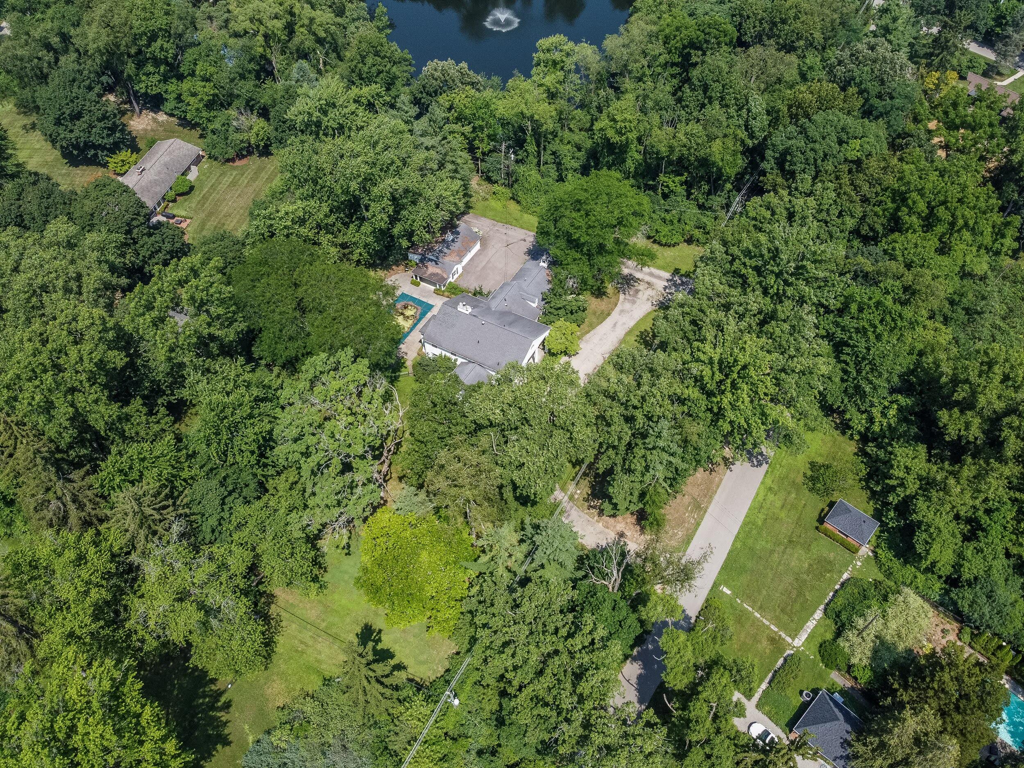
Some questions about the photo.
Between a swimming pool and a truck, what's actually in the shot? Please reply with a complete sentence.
There is a swimming pool in the scene.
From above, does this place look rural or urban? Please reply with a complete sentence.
From above, the setting appears rural.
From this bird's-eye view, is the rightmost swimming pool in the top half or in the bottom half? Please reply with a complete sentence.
You can find the rightmost swimming pool in the bottom half.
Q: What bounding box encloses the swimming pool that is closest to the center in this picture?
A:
[368,292,434,346]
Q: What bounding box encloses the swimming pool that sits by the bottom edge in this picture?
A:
[982,684,1024,753]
